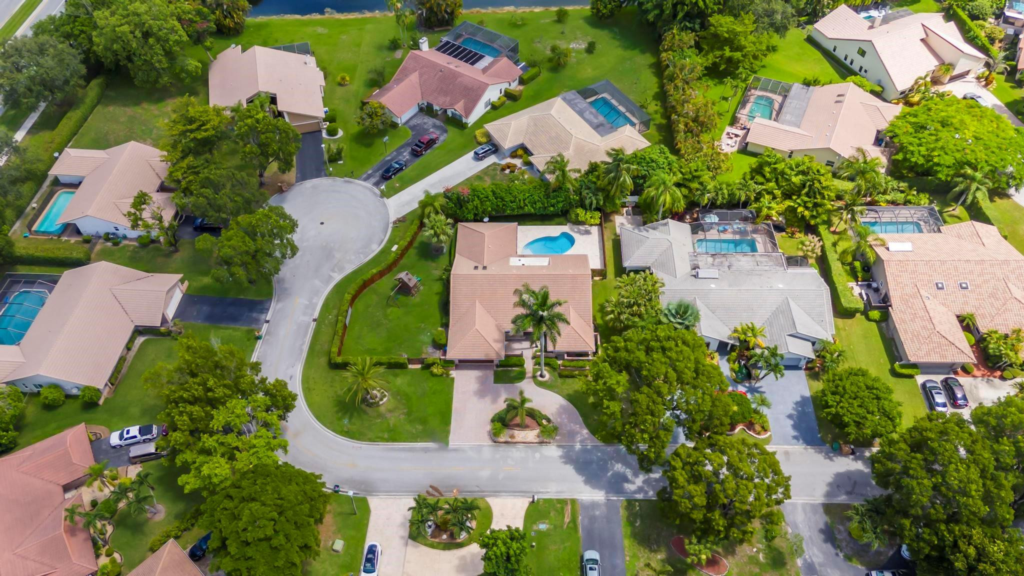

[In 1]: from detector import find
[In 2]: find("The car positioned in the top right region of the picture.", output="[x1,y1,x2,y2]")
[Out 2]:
[962,93,990,108]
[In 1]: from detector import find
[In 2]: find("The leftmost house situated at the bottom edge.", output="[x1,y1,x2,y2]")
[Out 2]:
[0,422,99,576]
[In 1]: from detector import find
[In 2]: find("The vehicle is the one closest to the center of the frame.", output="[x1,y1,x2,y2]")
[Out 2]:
[472,144,498,160]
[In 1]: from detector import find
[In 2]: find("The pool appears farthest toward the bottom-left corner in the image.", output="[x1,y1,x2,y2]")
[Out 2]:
[0,288,51,345]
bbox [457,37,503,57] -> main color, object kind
blue swimming pool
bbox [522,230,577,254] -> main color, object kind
blue swimming pool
